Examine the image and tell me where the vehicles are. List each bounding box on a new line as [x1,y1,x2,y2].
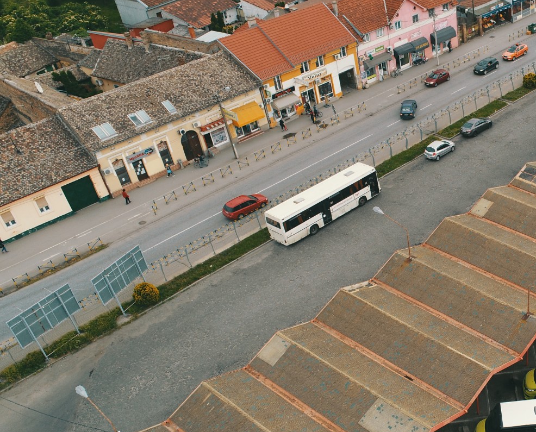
[265,160,382,242]
[460,115,493,137]
[424,67,451,87]
[479,399,536,432]
[502,43,529,60]
[219,194,268,221]
[425,53,430,63]
[396,101,426,120]
[473,55,499,74]
[422,139,455,160]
